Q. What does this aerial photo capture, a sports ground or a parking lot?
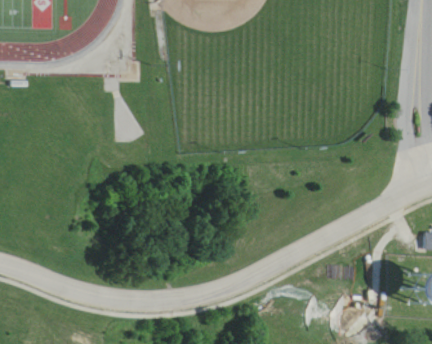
sports ground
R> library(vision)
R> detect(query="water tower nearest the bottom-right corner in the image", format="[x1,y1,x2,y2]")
[399,274,432,310]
